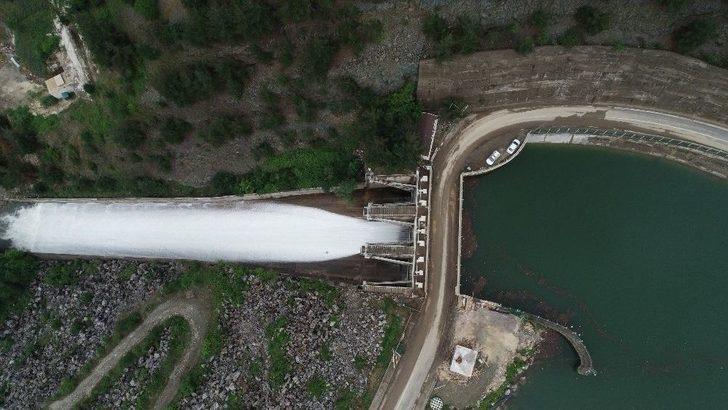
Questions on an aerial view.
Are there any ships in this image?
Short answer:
No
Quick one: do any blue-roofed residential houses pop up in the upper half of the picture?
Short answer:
No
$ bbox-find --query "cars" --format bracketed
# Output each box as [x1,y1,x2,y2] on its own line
[486,150,502,165]
[506,139,523,154]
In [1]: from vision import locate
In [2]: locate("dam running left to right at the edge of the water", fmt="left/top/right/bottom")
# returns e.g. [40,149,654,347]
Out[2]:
[0,139,432,294]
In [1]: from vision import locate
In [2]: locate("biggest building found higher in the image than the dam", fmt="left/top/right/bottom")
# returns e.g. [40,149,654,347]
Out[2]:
[45,73,77,100]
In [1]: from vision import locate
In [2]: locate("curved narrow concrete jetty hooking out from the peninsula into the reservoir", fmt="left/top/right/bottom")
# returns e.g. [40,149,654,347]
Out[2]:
[463,297,594,375]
